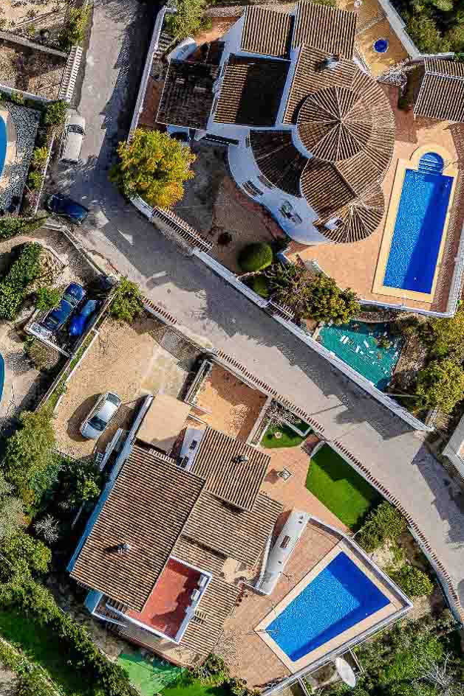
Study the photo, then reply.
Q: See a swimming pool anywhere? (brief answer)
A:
Yes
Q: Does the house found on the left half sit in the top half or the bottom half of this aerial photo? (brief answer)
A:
bottom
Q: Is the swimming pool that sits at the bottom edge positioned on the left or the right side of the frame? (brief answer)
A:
right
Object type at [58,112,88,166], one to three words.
vehicle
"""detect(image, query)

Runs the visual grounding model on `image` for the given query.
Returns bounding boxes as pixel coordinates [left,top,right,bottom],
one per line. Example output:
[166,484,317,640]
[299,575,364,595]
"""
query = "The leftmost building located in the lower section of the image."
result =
[65,392,284,668]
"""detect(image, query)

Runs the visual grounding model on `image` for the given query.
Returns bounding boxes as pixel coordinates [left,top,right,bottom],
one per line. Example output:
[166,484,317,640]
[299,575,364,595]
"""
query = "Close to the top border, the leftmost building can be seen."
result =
[148,1,396,249]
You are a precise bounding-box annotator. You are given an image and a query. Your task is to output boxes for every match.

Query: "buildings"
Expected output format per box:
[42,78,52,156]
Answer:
[397,56,464,131]
[431,420,464,487]
[148,1,396,249]
[65,392,284,668]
